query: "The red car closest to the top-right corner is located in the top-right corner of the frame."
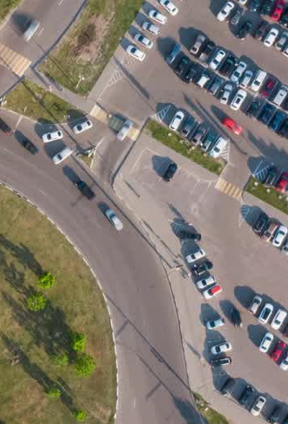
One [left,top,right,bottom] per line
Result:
[269,0,286,22]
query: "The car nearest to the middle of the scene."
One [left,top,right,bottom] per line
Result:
[104,208,121,227]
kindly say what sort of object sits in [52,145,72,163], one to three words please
car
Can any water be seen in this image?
No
